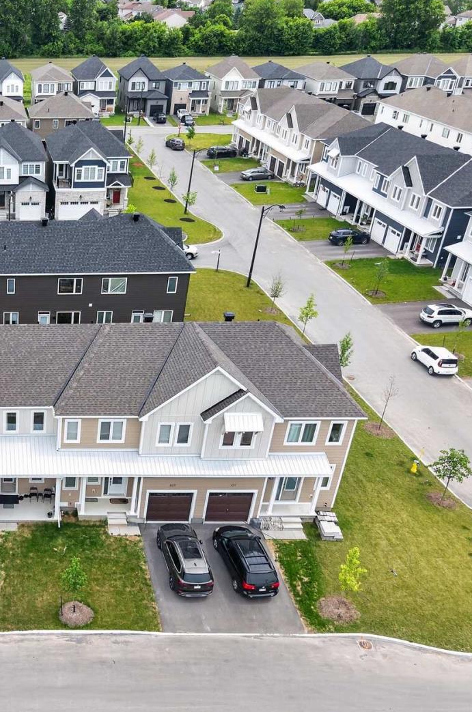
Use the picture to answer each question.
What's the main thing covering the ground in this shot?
buildings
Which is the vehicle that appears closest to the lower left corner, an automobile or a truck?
automobile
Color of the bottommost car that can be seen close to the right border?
white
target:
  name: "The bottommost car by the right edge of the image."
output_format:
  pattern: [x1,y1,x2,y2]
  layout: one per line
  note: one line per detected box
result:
[411,345,463,377]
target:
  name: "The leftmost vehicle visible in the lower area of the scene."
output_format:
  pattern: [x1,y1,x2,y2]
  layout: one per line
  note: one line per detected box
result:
[157,527,215,600]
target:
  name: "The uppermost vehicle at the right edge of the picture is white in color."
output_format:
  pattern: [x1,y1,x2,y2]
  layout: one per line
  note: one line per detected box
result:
[419,301,472,328]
